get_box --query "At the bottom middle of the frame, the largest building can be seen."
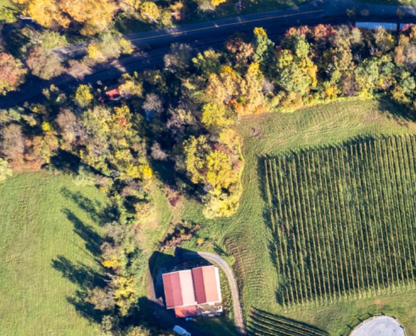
[163,266,224,317]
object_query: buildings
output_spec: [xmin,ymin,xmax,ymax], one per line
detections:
[105,84,124,98]
[163,266,224,317]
